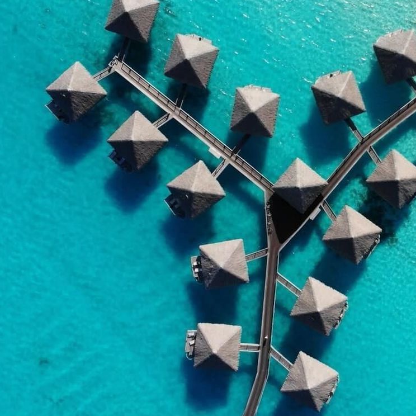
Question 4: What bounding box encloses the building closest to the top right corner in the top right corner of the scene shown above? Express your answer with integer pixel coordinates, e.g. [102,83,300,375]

[373,28,416,85]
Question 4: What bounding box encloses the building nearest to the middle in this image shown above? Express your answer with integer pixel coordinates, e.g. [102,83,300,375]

[162,160,226,221]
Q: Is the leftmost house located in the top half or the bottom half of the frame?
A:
top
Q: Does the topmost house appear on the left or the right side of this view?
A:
left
